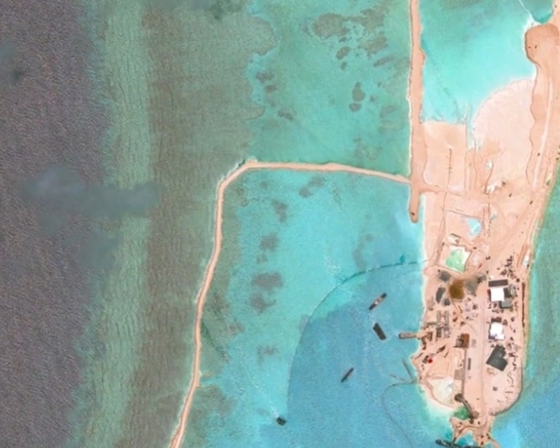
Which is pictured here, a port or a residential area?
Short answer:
port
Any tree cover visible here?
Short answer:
No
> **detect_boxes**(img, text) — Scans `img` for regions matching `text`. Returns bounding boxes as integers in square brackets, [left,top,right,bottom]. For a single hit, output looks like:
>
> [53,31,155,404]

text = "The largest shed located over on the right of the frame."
[486,344,508,371]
